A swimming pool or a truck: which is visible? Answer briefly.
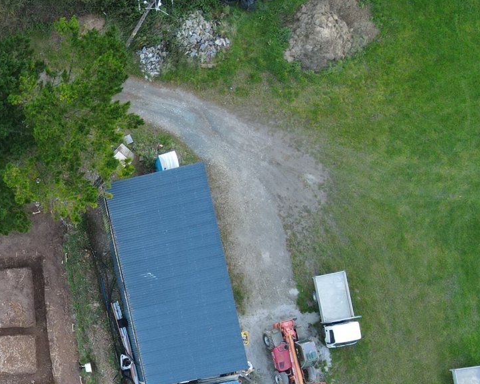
truck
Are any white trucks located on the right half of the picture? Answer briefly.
Yes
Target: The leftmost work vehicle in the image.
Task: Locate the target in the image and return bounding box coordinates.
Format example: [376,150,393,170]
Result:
[260,318,325,384]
